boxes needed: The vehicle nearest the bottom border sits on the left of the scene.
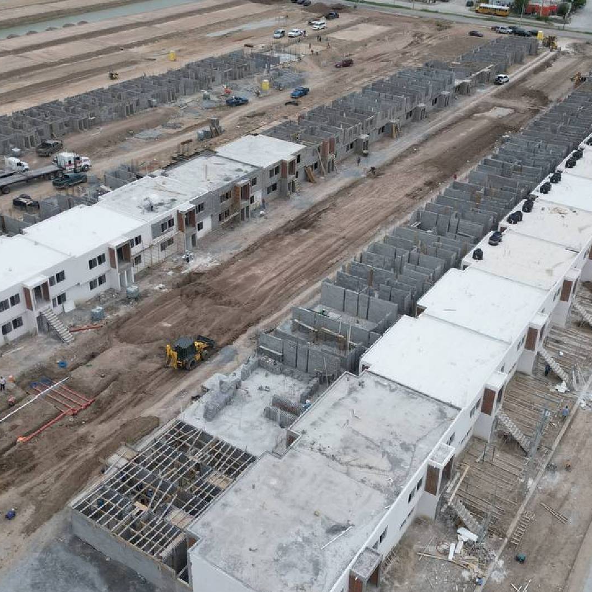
[169,330,226,368]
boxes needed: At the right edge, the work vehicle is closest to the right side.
[566,73,588,89]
